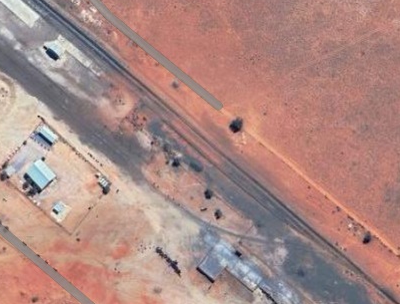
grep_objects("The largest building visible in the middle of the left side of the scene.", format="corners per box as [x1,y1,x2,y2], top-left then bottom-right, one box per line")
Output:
[26,160,55,190]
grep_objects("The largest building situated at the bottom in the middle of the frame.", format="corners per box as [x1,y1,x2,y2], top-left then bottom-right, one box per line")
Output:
[199,252,227,281]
